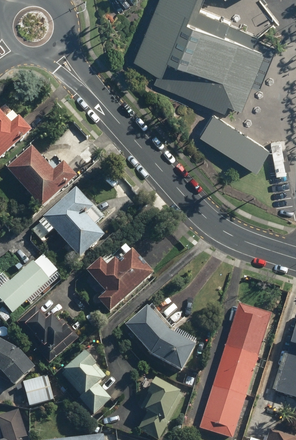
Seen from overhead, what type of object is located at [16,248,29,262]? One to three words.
vehicle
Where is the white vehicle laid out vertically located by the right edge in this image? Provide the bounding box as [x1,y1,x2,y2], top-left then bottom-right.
[271,140,286,180]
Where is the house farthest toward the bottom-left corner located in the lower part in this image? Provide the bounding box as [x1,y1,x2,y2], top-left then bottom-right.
[0,410,26,440]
